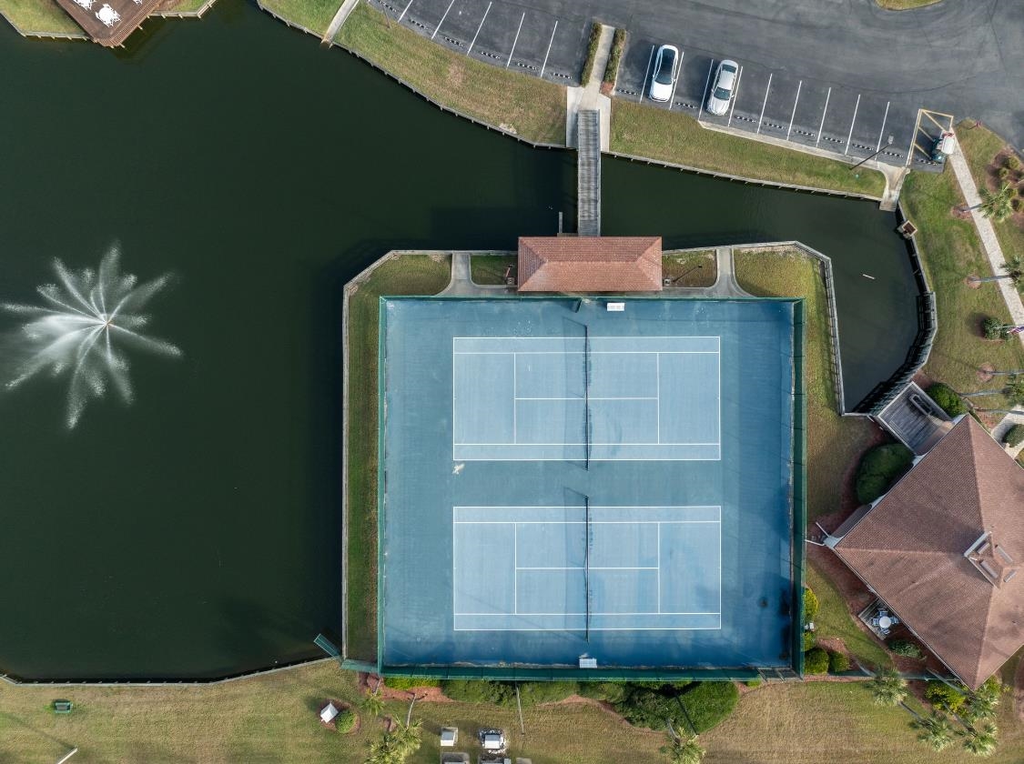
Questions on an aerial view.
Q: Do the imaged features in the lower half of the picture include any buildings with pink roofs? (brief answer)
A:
No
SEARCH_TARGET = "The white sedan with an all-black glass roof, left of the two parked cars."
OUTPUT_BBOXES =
[650,43,680,104]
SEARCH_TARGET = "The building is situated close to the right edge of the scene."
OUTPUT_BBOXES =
[806,414,1024,686]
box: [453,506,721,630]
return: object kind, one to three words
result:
tennis court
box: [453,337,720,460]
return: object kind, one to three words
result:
tennis court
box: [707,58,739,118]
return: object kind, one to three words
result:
car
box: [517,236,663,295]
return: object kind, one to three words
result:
building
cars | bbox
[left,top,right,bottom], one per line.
[707,58,739,118]
[650,43,680,104]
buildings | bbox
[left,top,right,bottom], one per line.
[321,703,339,722]
[517,236,663,295]
[806,414,1024,686]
